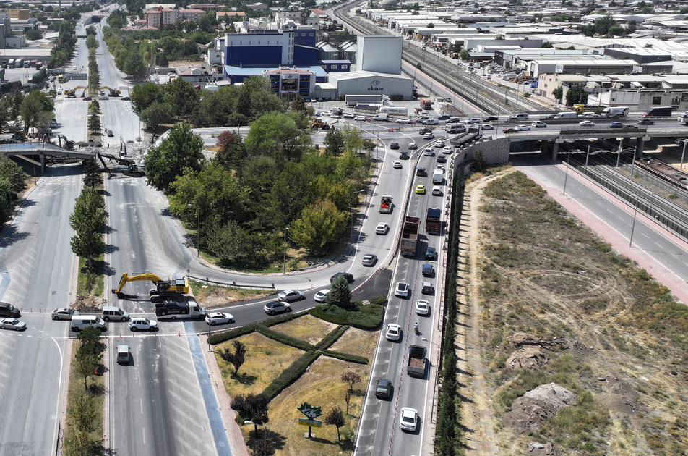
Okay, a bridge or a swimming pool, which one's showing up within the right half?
bridge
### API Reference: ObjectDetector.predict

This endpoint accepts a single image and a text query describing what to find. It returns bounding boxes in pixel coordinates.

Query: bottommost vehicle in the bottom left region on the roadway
[114,345,132,365]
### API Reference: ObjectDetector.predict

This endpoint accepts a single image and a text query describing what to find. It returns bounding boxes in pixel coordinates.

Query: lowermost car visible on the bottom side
[399,407,420,433]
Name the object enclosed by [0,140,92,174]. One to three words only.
bridge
